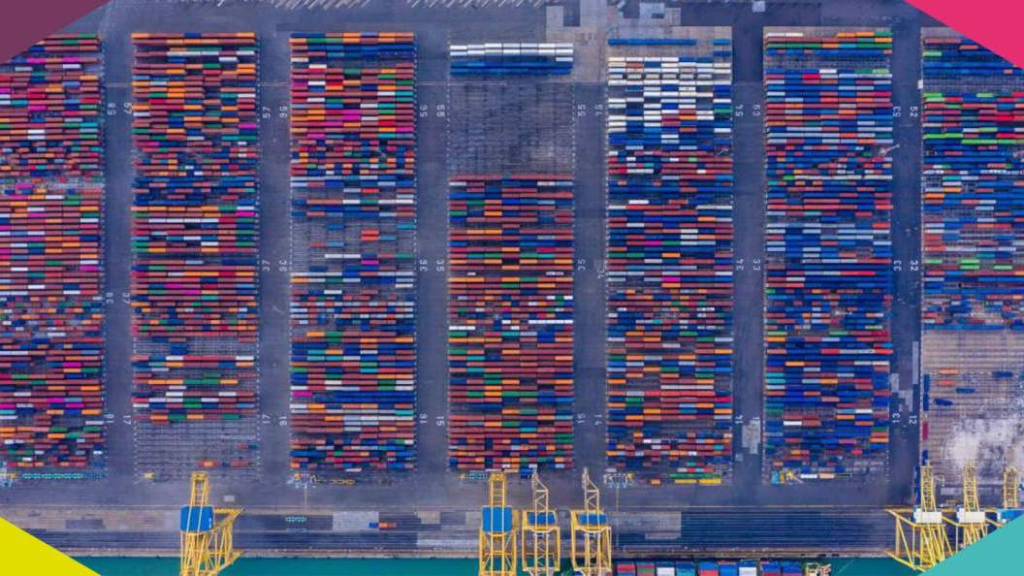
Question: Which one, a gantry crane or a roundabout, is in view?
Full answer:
I can see a gantry crane in this picture.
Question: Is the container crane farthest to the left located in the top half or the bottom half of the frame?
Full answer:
The bottom half of the photo is where the container crane farthest to the left is.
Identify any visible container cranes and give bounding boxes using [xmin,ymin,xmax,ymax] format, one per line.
[961,463,1024,576]
[882,463,960,576]
[563,467,610,576]
[175,471,249,576]
[517,467,561,576]
[920,463,1004,576]
[477,471,518,576]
